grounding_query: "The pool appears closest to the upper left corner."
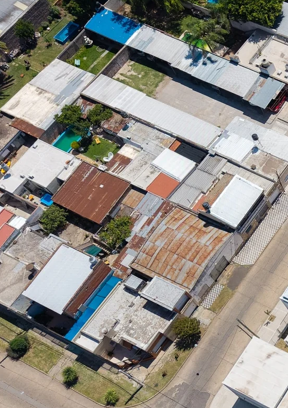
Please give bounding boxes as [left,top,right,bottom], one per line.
[54,21,82,47]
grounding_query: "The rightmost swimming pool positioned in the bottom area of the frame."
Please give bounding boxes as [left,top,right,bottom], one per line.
[82,244,104,257]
